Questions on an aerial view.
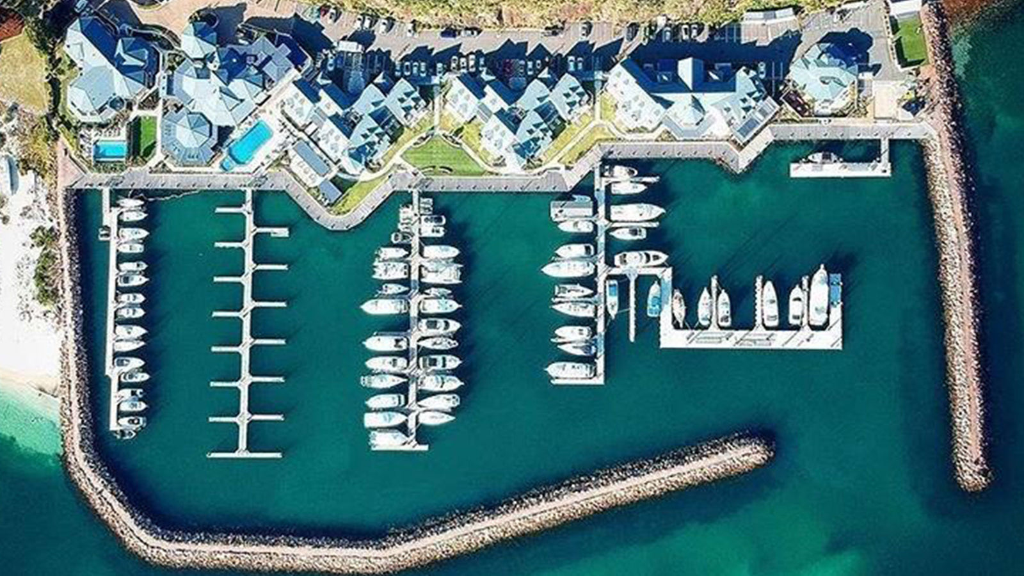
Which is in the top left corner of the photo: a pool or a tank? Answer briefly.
pool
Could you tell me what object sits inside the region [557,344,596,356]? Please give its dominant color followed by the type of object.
white boat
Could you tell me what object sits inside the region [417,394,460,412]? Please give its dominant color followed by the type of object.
white boat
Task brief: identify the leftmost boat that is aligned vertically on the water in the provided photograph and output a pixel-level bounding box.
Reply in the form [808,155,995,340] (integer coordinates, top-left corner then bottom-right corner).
[607,279,619,319]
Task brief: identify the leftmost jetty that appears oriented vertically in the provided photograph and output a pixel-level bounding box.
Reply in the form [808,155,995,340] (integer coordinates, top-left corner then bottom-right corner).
[103,190,145,433]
